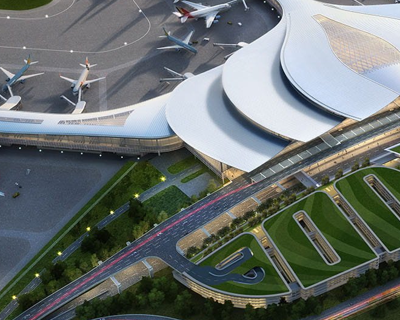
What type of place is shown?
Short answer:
airport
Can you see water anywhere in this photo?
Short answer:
No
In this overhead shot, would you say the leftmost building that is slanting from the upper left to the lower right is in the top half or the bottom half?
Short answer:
bottom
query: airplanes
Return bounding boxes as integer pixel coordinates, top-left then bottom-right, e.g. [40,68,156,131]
[59,60,108,94]
[173,0,230,24]
[160,30,196,53]
[0,54,43,90]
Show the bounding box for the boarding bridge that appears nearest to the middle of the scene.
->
[159,66,192,84]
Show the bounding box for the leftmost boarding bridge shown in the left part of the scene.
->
[0,83,24,110]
